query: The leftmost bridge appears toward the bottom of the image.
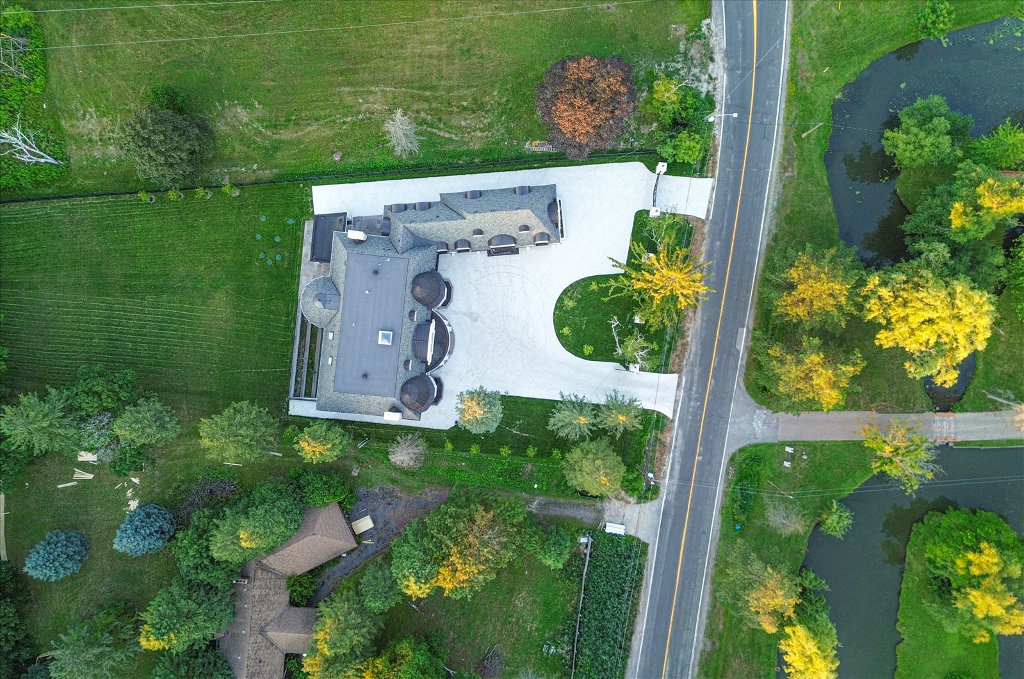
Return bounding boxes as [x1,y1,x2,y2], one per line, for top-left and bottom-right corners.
[933,413,957,446]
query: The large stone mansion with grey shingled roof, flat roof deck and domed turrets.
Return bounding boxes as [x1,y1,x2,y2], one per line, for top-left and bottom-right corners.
[300,184,567,420]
